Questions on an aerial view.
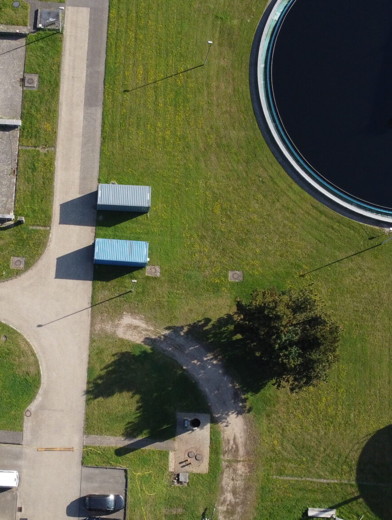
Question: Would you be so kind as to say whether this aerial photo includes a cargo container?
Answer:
Yes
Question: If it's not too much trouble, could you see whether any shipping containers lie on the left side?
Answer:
Yes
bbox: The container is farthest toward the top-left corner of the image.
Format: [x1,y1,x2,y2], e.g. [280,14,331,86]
[97,184,151,213]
